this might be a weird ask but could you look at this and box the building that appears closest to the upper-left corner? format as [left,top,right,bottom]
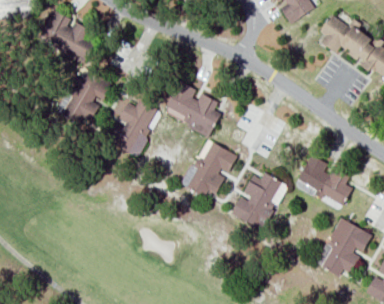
[44,12,92,62]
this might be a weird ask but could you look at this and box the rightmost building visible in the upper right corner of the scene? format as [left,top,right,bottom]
[320,13,384,73]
